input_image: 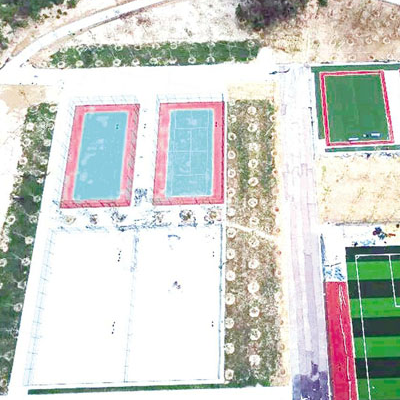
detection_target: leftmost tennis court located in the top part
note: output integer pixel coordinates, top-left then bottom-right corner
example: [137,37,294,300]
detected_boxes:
[60,104,139,209]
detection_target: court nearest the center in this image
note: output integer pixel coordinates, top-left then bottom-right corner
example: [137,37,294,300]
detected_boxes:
[153,101,224,206]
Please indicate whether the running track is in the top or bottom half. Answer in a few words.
bottom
